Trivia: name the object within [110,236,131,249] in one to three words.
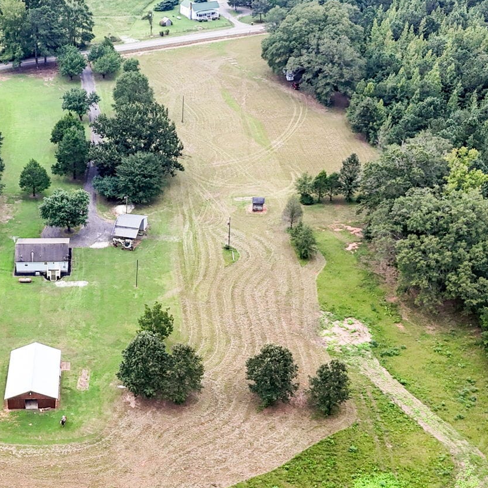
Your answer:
vehicle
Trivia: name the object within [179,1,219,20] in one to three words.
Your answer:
house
